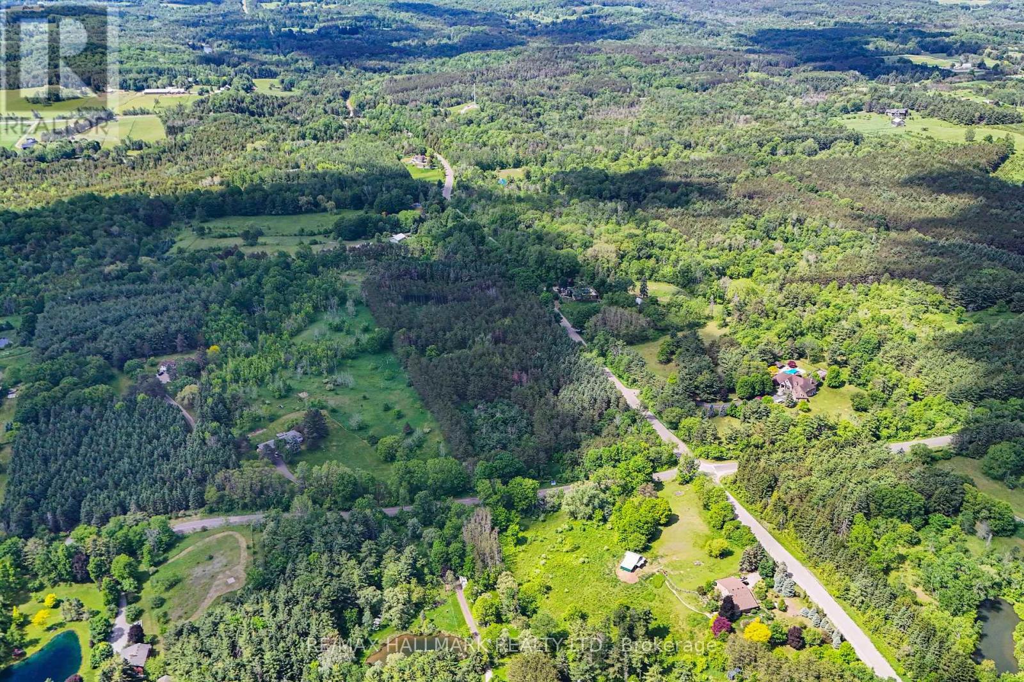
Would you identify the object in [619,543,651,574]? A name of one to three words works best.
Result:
barn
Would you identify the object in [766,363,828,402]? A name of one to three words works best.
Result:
house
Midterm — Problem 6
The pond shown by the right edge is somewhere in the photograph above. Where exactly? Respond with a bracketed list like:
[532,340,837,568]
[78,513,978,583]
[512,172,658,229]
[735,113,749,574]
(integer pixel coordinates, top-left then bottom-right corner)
[972,597,1024,676]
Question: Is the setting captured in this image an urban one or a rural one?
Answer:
rural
